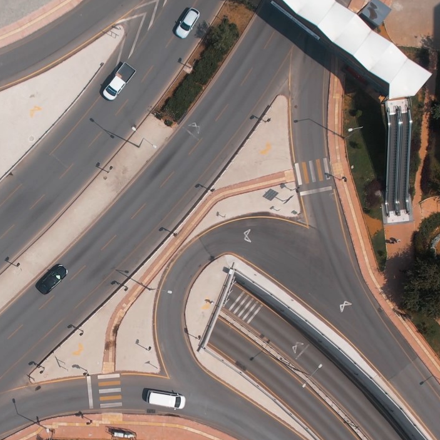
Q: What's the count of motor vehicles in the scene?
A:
4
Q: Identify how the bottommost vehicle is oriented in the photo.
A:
horizontally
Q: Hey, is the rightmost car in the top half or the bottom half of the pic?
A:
top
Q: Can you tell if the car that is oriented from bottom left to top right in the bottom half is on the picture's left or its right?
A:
left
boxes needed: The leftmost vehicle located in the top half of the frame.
[104,61,138,100]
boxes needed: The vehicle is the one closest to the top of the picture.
[175,4,202,40]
